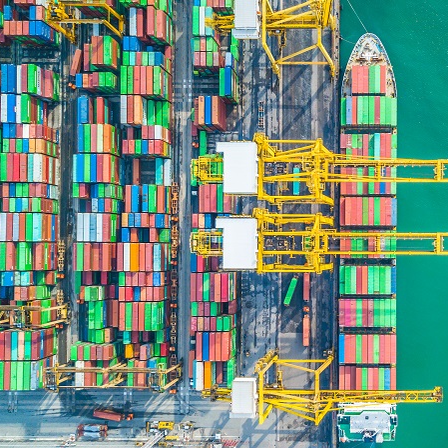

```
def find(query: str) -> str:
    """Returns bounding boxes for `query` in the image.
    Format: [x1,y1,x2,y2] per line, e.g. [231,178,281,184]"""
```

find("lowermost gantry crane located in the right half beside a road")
[194,340,445,428]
